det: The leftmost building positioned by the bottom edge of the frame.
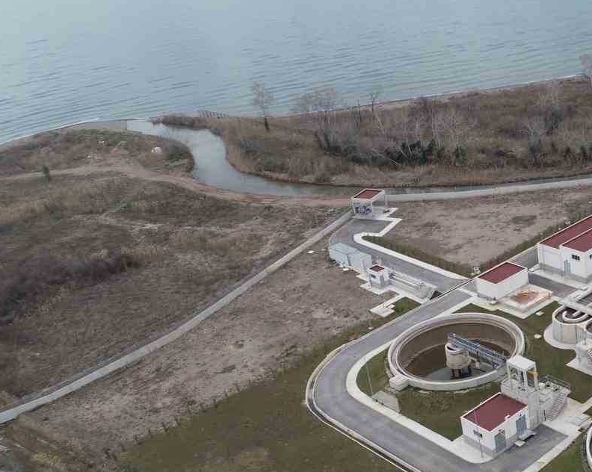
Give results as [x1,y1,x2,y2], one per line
[461,393,537,457]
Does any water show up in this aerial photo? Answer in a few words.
Yes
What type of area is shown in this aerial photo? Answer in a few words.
industrial area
